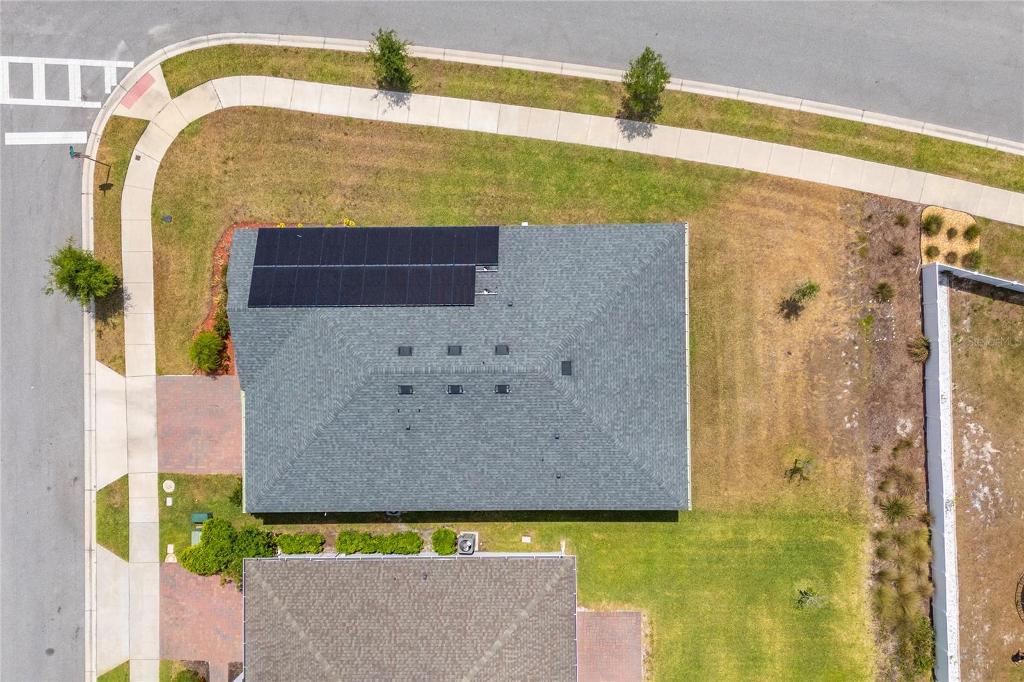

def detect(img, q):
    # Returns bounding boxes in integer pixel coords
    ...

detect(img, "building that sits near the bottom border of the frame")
[236,540,578,682]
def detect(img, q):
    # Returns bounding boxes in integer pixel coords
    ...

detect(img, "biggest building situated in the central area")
[224,223,693,514]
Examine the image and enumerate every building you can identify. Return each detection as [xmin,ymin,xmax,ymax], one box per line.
[236,540,578,682]
[224,223,693,514]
